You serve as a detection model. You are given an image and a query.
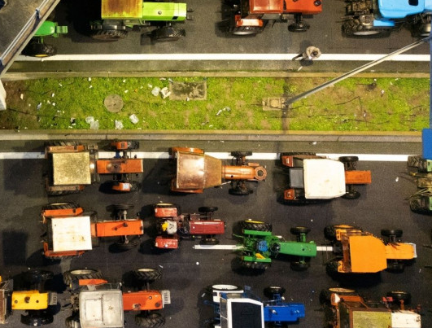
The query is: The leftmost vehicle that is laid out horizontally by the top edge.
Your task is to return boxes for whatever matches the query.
[80,0,192,45]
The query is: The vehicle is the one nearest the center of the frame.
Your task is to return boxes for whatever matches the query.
[156,145,270,200]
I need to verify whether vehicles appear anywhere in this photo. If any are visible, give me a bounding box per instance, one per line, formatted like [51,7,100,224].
[48,263,169,328]
[213,0,323,37]
[265,148,371,207]
[309,220,415,282]
[146,201,228,255]
[30,199,147,264]
[391,150,432,218]
[34,136,147,197]
[304,279,422,328]
[156,145,270,200]
[329,0,432,42]
[225,219,317,278]
[0,265,58,328]
[80,0,192,45]
[190,274,305,328]
[13,8,67,61]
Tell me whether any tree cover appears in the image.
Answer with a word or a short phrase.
No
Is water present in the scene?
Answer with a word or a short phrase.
No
